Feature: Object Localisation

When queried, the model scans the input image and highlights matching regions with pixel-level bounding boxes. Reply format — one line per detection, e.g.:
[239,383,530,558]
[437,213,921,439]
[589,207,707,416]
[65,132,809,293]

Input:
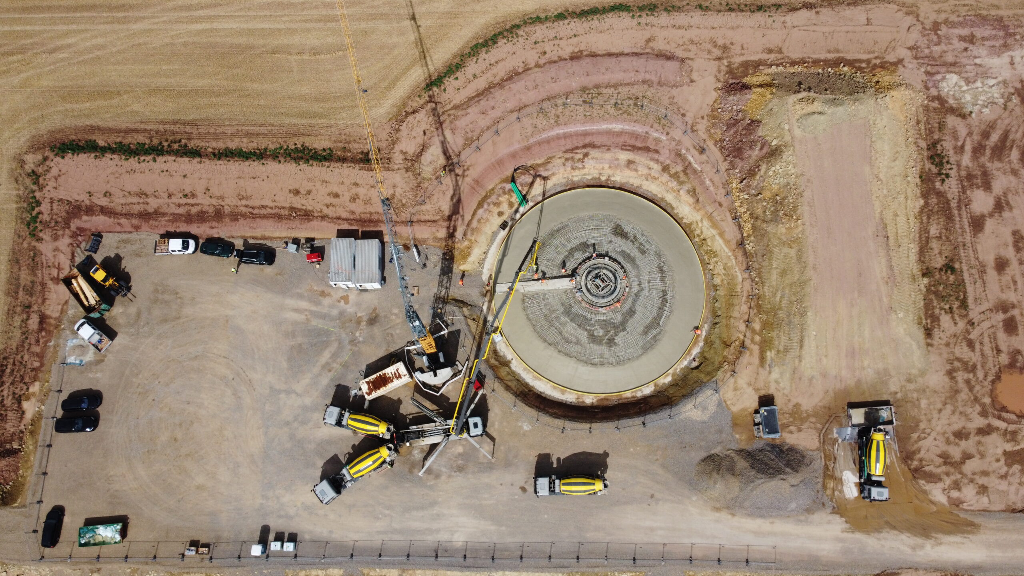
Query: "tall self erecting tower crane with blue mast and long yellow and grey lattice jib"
[334,0,456,384]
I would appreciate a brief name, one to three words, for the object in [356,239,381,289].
shipping container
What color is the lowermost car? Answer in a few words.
black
